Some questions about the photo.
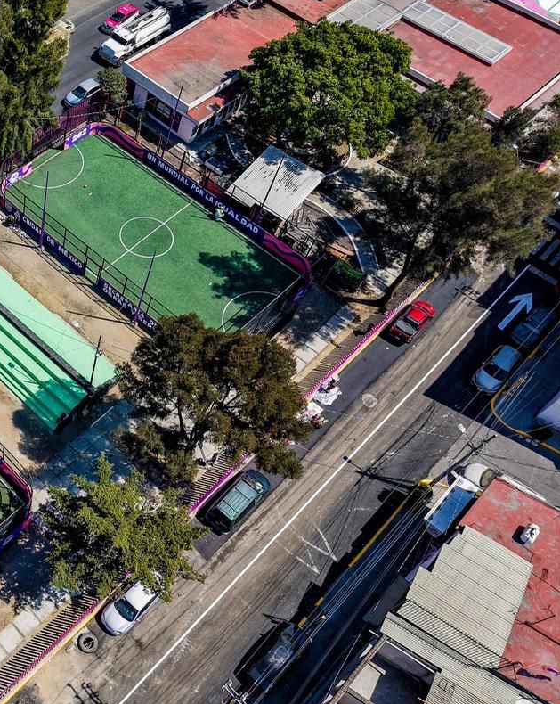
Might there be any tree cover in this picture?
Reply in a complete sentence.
Yes, there's tree cover in this view.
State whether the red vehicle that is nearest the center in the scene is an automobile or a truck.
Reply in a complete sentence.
What you see as the red vehicle that is nearest the center is an automobile.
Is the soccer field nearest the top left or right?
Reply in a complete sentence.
It is on the left.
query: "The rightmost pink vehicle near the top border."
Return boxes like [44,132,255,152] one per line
[98,4,141,33]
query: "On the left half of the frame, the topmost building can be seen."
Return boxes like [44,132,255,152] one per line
[120,0,305,153]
